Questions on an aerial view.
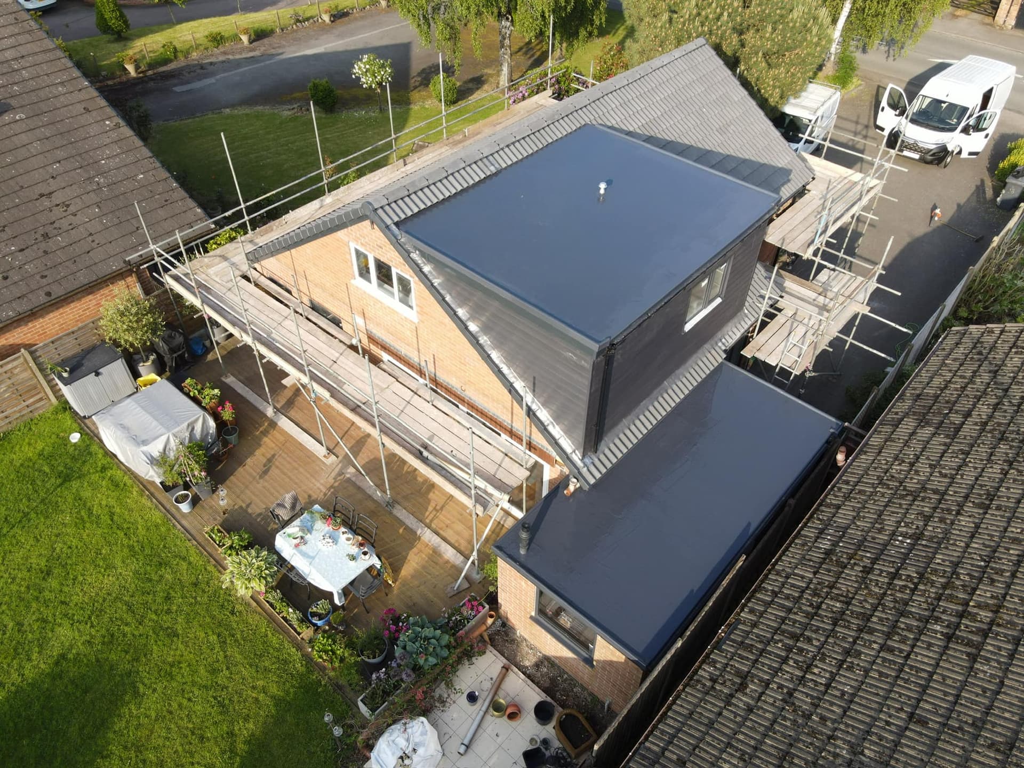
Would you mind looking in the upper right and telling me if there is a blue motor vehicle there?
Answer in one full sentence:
No, I can find no blue motor vehicle in the upper right.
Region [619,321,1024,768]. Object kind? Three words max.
house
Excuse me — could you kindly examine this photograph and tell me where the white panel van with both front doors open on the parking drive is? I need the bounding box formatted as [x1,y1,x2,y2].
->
[869,52,1016,172]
